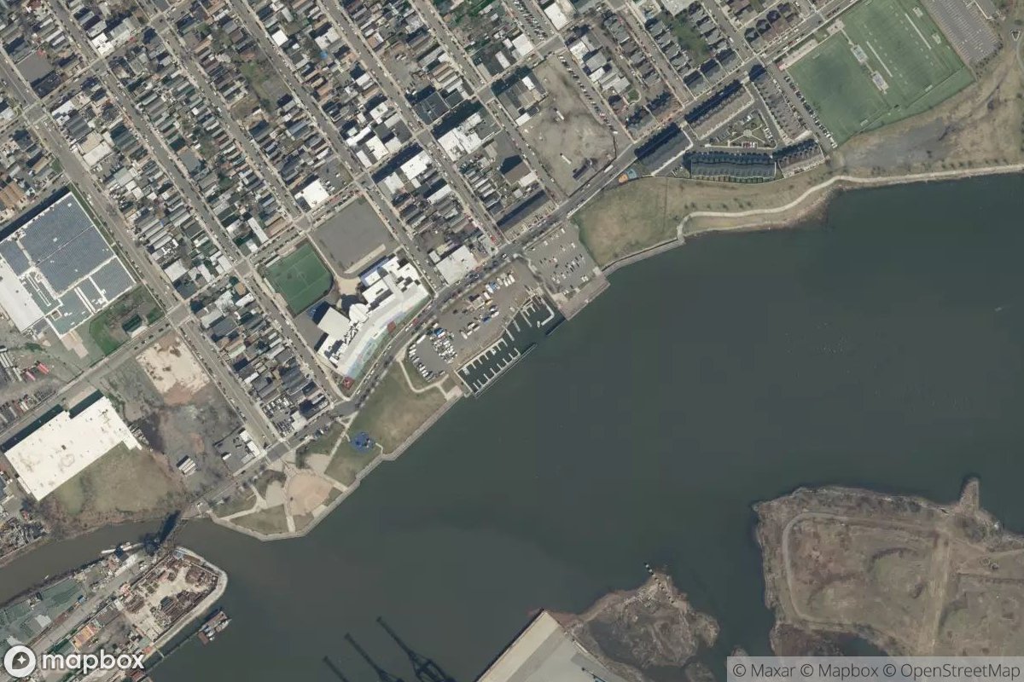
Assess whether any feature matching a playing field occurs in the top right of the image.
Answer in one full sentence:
Yes, you'll find a playing field in the top right of the image.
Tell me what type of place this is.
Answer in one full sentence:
This looks like a residential area.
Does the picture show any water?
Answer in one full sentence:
Yes, water can be seen from above here.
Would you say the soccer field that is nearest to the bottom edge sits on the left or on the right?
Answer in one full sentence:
The soccer field that is nearest to the bottom edge appears in the left half of the scene.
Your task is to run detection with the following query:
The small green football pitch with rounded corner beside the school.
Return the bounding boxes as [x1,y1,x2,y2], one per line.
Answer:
[262,240,333,316]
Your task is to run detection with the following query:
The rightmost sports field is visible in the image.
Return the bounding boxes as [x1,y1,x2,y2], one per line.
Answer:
[854,0,974,121]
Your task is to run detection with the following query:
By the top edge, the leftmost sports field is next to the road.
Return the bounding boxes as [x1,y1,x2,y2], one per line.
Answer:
[787,22,893,142]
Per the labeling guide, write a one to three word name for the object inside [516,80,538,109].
building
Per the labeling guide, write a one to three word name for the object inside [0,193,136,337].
warehouse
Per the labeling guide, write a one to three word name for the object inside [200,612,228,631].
ship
